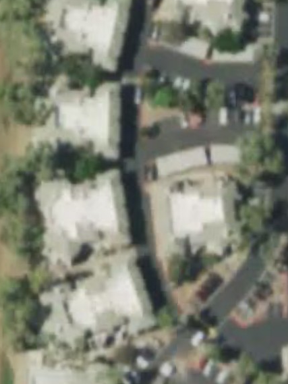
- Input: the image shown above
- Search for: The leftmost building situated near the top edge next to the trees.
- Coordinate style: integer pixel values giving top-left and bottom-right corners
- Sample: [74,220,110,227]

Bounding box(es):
[46,0,133,71]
